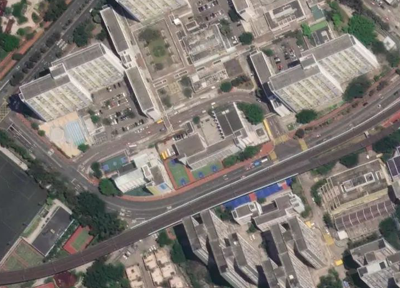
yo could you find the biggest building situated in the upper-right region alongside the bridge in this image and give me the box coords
[269,34,374,112]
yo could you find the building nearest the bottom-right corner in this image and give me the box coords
[350,238,400,288]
